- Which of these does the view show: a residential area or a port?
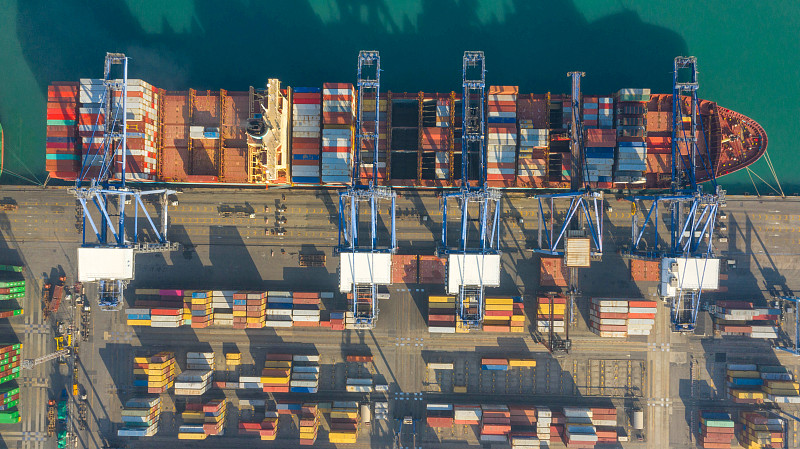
port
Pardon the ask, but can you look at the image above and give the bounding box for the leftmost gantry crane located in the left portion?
[70,54,184,310]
